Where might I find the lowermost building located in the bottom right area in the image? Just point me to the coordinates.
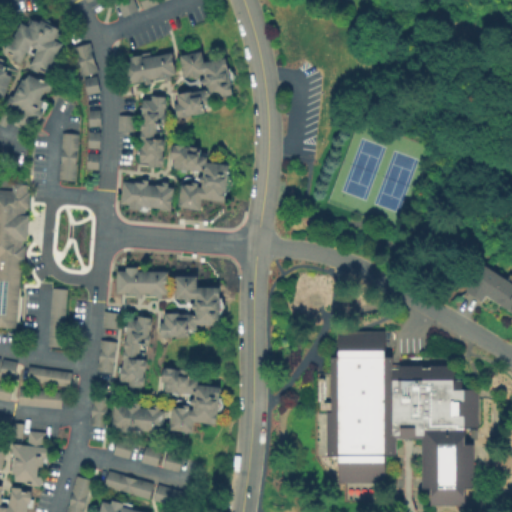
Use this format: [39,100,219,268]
[332,332,478,506]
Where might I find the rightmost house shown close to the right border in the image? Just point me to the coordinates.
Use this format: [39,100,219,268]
[472,268,512,311]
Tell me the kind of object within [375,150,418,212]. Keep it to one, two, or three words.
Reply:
tennis court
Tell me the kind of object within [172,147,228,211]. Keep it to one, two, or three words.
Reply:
building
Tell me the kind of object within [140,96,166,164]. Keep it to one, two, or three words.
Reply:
building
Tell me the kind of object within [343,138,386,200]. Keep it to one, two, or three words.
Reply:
tennis court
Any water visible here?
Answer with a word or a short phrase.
No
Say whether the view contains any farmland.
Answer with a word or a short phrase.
No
